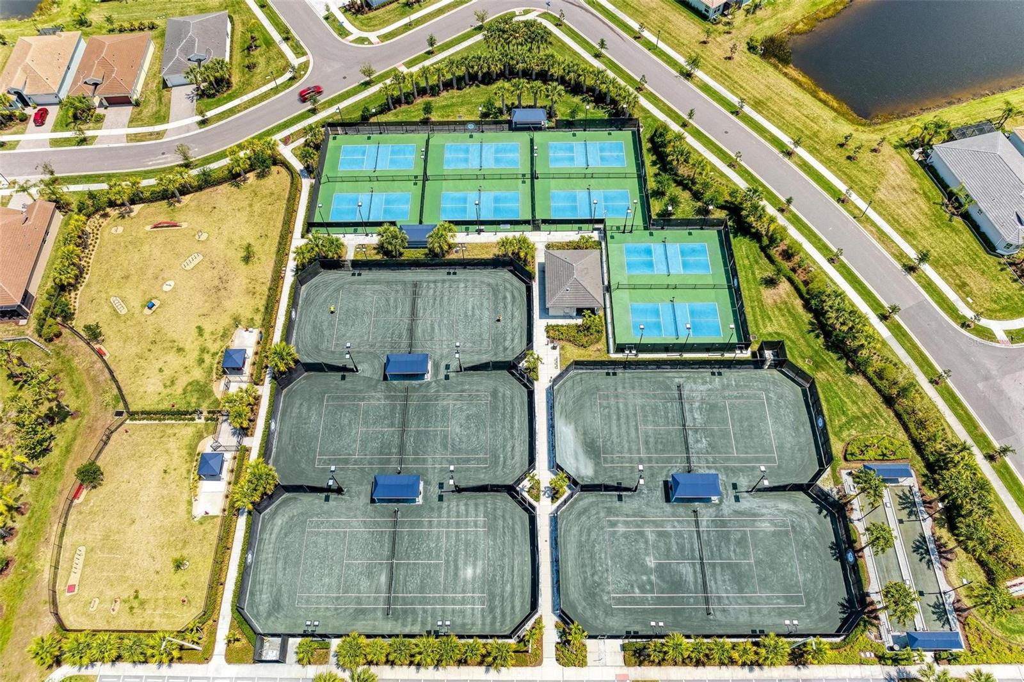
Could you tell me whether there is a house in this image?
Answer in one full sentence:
Yes, the picture does show a house.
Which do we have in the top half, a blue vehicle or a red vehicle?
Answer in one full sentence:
What appears in the top half is a red vehicle.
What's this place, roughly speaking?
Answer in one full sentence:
The area seen from above is a sports ground.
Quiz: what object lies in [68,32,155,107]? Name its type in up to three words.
house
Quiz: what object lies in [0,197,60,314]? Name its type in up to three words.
house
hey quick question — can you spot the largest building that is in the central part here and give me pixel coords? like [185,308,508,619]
[544,250,604,315]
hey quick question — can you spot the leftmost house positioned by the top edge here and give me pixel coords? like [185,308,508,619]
[0,31,86,114]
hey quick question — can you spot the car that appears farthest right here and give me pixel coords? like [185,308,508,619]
[297,85,323,102]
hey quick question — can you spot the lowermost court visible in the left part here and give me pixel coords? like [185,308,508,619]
[244,491,536,632]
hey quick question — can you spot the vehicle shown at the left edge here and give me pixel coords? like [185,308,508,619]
[29,108,47,127]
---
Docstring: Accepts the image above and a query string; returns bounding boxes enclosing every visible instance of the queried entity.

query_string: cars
[29,108,47,127]
[297,85,323,102]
